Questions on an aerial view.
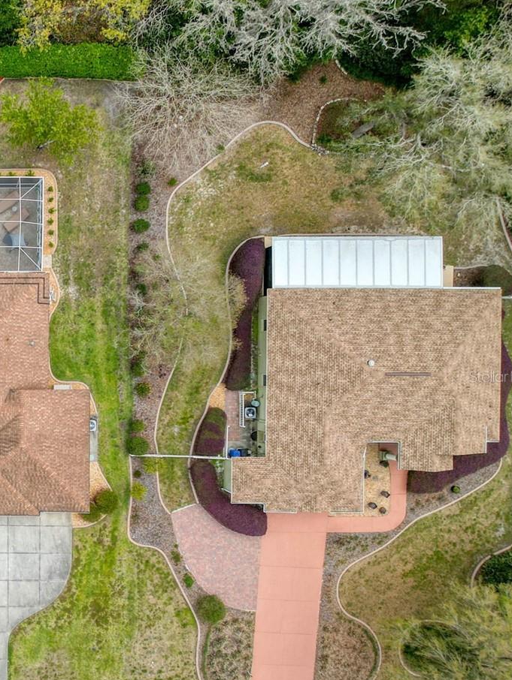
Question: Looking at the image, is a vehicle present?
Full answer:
No, the picture doesn't show any vehicle.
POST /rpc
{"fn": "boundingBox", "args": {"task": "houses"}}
[222,235,503,514]
[0,270,90,517]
